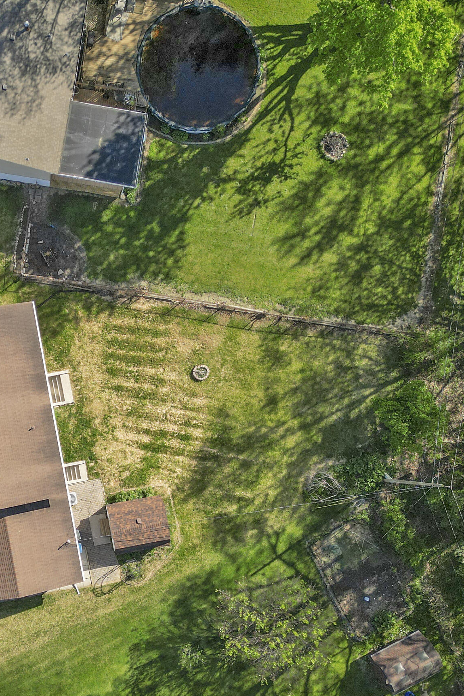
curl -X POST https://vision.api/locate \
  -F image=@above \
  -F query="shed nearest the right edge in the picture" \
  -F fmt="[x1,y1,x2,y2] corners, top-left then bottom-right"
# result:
[362,625,442,695]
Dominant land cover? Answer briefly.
grass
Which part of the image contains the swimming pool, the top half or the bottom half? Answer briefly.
top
